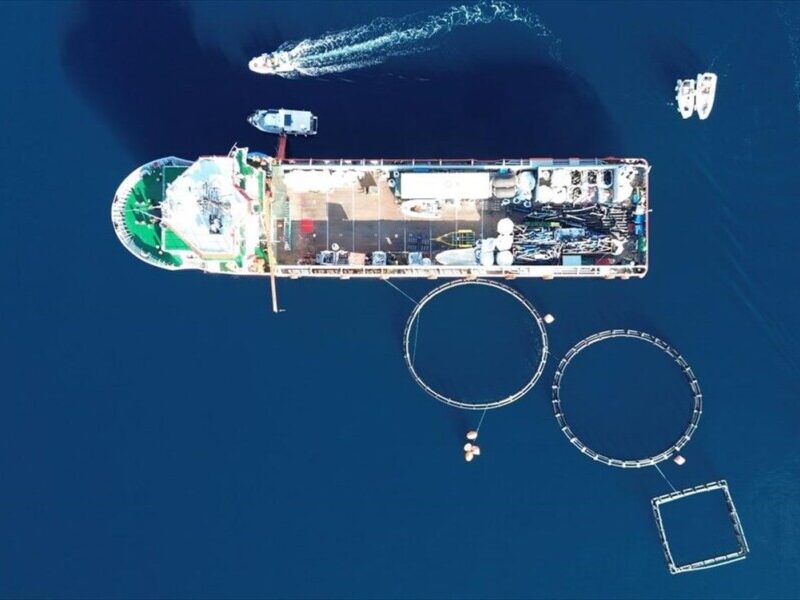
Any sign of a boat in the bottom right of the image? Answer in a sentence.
No, I can find no boat in the bottom right of the image.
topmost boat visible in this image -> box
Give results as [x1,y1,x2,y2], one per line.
[248,51,296,72]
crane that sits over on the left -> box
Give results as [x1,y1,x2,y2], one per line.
[258,189,284,312]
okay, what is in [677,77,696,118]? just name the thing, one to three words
boat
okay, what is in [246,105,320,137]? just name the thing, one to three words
boat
